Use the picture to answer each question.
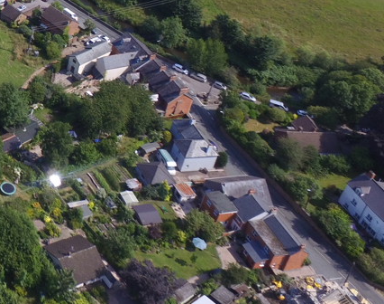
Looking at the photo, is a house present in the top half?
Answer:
Yes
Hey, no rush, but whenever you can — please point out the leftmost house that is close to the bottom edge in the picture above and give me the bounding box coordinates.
[33,224,121,304]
